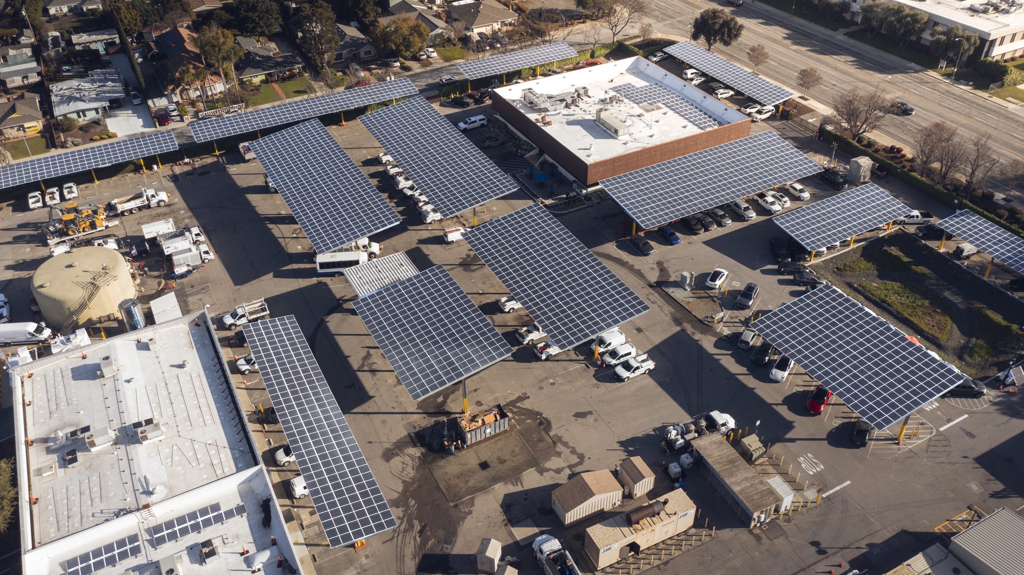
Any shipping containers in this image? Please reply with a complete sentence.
Yes, the picture does show a shipping container.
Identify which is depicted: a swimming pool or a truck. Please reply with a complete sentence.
Visible in the photo is a truck.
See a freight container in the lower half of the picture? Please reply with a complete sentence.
Yes, a freight container can be seen in the lower half of the picture.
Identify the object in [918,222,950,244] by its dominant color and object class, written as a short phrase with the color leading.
black truck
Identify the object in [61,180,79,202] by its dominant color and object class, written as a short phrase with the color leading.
white vehicle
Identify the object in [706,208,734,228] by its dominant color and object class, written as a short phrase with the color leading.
gray car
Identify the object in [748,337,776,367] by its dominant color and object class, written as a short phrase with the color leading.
black car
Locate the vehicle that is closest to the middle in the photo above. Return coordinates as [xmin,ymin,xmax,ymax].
[490,294,523,317]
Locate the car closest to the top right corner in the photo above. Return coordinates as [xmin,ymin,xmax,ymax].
[890,102,916,116]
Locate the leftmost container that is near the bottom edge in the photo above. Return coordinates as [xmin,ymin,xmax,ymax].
[586,486,697,572]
